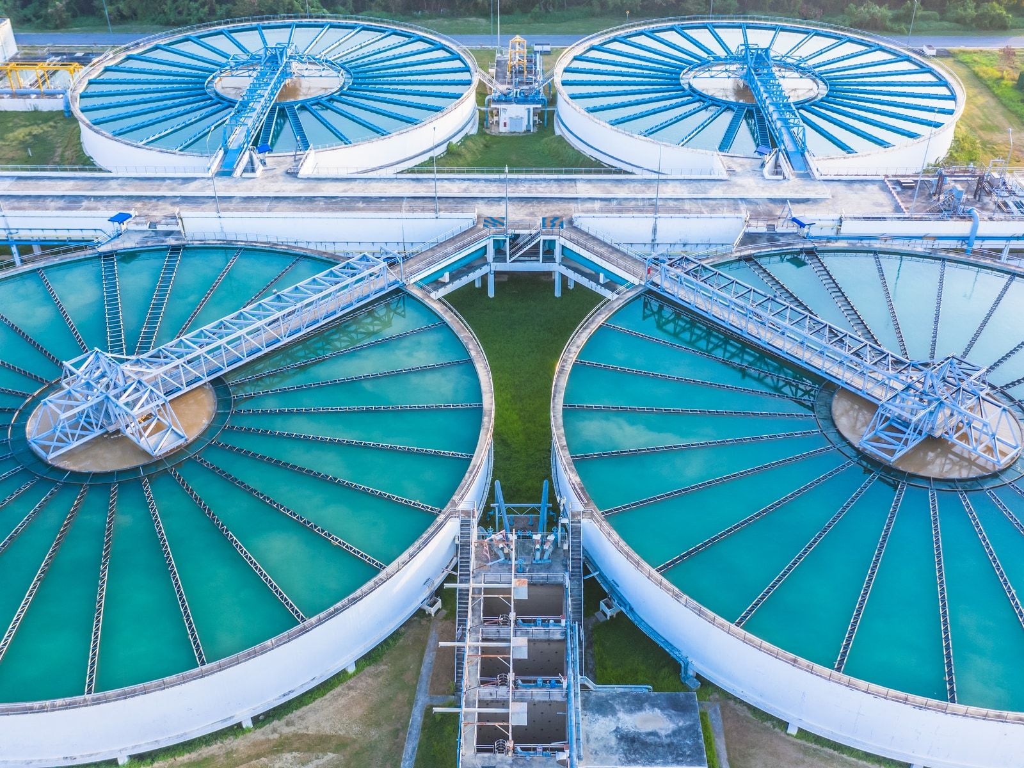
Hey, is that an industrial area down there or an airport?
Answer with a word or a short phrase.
industrial area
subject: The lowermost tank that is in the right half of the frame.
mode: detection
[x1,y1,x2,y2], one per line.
[548,235,1024,768]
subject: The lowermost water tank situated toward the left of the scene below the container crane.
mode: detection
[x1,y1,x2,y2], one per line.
[0,228,496,768]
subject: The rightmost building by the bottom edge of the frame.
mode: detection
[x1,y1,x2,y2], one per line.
[578,692,706,768]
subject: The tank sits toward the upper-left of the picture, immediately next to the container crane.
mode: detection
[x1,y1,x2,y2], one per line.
[71,11,483,173]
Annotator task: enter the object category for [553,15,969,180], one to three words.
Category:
water tank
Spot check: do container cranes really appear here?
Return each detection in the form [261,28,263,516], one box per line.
[0,58,87,88]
